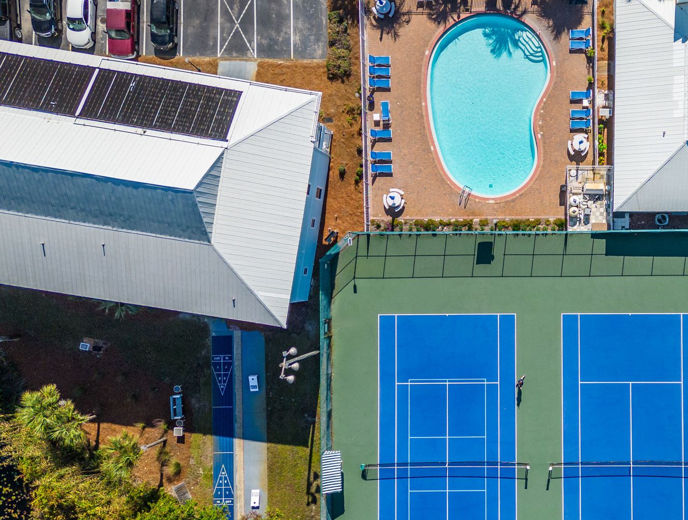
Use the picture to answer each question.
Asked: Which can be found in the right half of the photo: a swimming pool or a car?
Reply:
swimming pool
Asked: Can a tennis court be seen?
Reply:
Yes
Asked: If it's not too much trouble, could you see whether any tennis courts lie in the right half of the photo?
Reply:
Yes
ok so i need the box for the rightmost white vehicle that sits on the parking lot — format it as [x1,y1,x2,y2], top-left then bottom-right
[64,0,98,48]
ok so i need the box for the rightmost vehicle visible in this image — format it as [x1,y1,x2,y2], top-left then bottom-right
[146,0,178,50]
